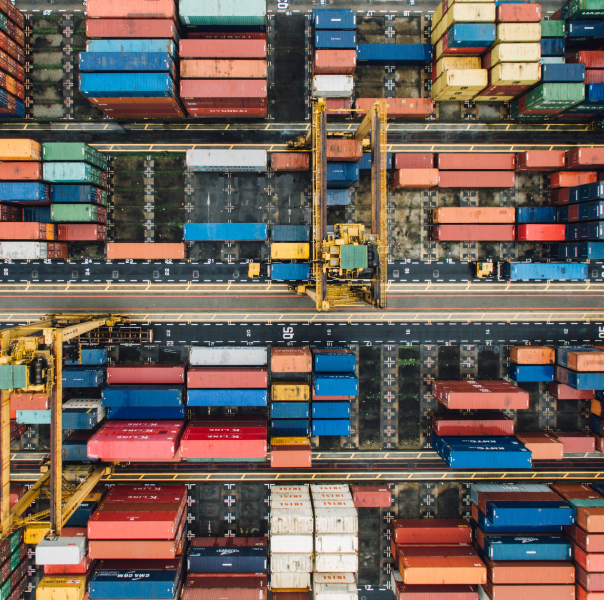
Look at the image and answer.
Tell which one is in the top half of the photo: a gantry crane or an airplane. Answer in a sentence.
Looking in the top half of the photo, you will find a gantry crane.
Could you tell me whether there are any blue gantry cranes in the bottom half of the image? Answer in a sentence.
No, I can find no blue gantry crane in the bottom half of the image.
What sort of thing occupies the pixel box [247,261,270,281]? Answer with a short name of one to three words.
vehicle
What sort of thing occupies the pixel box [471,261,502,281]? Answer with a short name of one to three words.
vehicle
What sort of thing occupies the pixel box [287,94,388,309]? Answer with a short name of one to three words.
container crane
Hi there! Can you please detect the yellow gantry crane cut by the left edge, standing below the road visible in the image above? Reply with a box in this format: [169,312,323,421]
[0,313,124,545]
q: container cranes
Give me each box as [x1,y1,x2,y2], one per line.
[0,313,124,545]
[287,94,388,309]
